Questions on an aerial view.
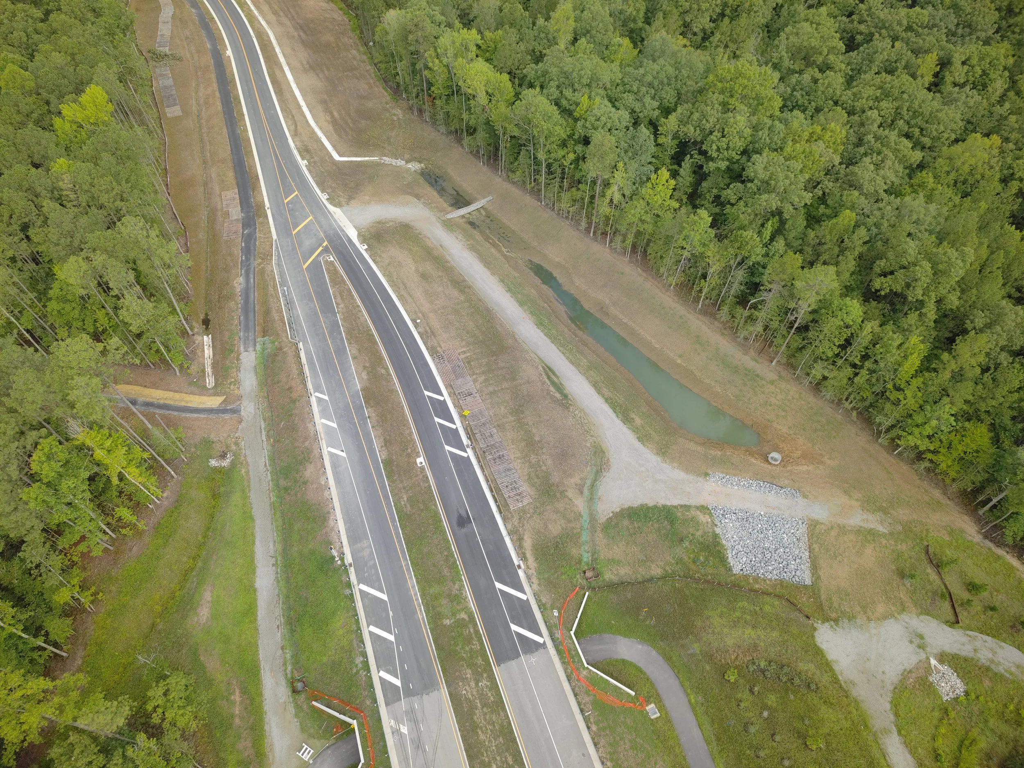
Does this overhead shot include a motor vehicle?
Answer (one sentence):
No, I find no motor vehicle anywhere in the image.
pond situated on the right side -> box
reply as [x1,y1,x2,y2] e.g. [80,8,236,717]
[527,259,760,446]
